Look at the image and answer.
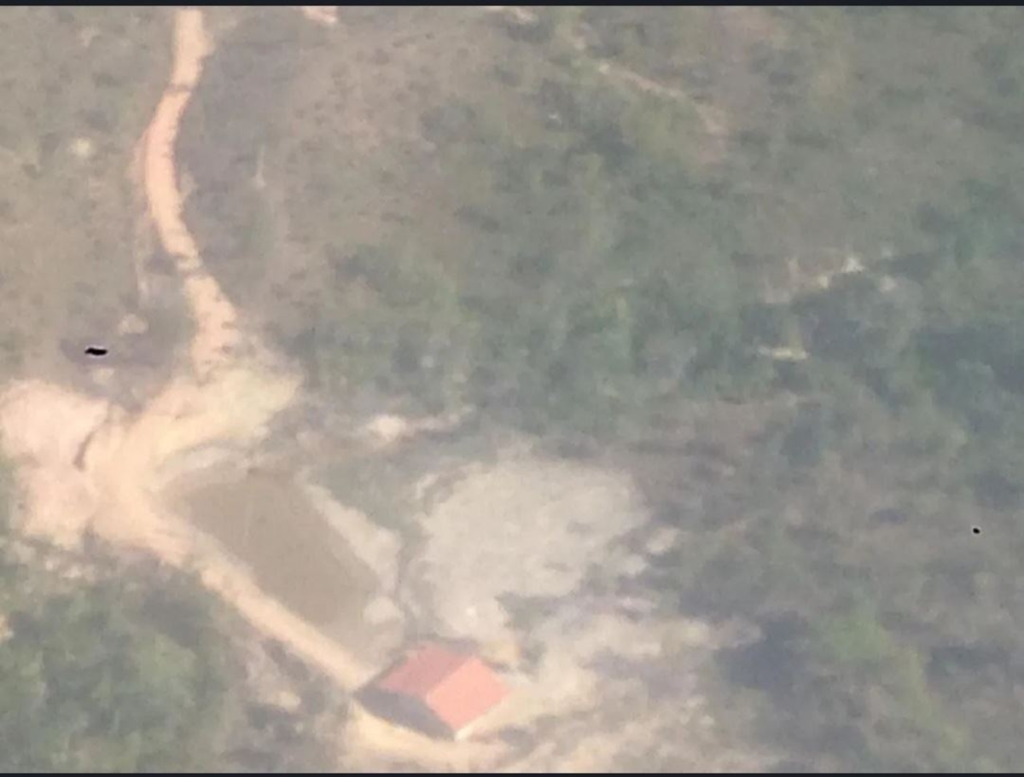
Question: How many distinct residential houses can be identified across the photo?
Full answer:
The photo contains exactly 1 residential house.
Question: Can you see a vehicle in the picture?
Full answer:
No, no vehicle is visible in the view.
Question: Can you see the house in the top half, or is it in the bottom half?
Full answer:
The house is in the bottom half of the image.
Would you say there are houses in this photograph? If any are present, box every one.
[375,641,506,745]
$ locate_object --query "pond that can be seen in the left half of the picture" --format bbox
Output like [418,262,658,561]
[170,458,385,651]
